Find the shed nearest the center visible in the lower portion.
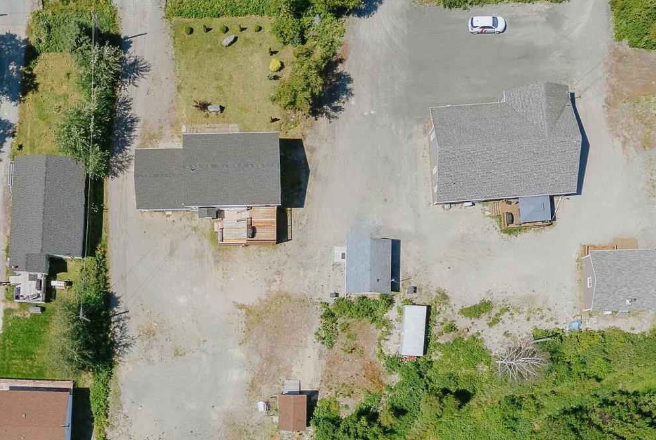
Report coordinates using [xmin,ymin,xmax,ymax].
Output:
[344,237,402,295]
